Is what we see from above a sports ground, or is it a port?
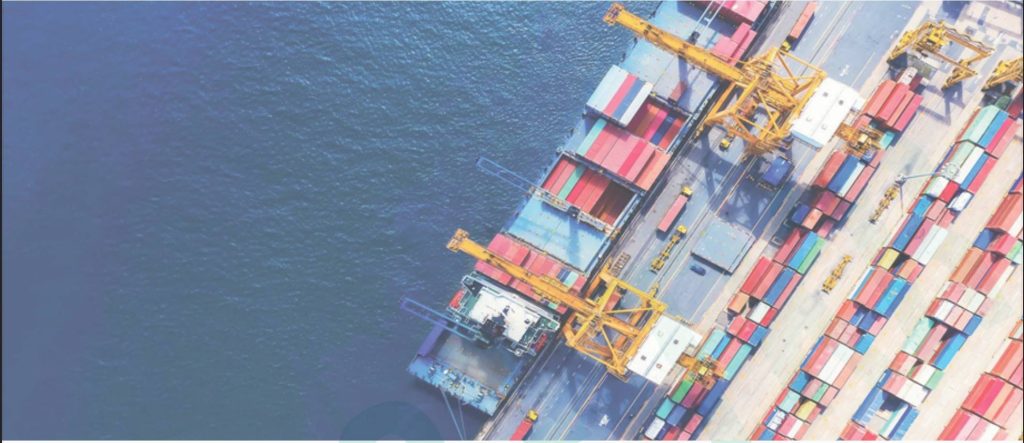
port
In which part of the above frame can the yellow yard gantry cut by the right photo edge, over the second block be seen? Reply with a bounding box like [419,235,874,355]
[977,53,1024,95]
